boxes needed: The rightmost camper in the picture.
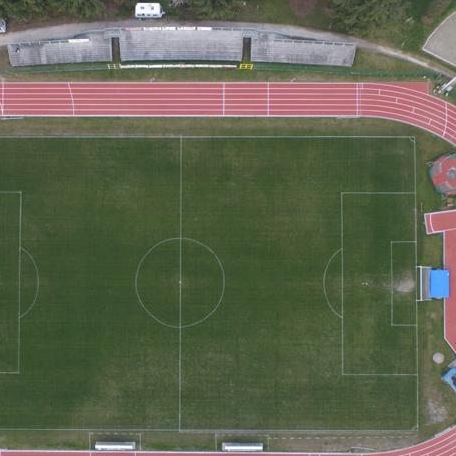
[136,0,165,17]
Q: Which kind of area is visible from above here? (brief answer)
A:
sports ground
